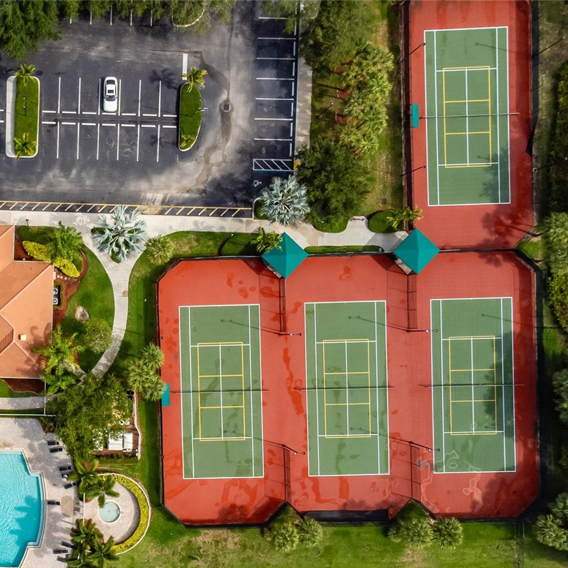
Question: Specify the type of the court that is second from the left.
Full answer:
I'd say the court that is second from the left is a tennis court.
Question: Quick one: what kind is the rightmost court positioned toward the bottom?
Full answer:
It turns out the rightmost court positioned toward the bottom is a tennis court.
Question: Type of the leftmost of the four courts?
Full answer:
Specifically, the leftmost of the four courts is a tennis court.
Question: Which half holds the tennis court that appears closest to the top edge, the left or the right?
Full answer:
The tennis court that appears closest to the top edge sits on the right side.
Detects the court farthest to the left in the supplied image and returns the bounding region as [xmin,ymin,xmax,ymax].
[156,258,285,525]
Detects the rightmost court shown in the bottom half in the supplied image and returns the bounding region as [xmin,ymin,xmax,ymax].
[409,250,540,521]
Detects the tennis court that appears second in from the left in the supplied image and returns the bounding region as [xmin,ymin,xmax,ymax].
[282,253,412,522]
